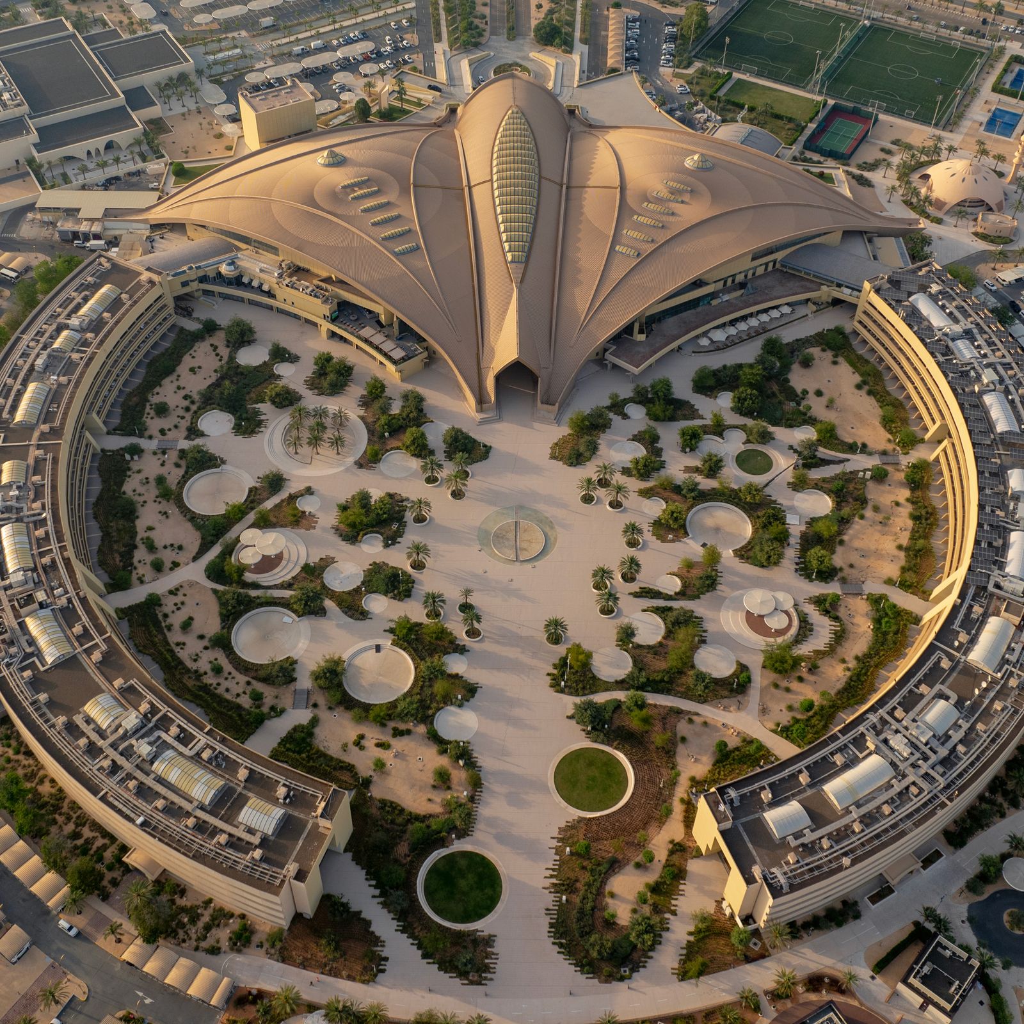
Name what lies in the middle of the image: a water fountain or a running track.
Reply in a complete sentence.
The feature located in the middle of the image is a water fountain.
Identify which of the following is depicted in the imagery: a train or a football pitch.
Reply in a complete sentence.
Looking from above, you can make out a football pitch.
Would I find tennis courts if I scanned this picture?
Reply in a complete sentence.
Yes, a tennis court is visible in the scene.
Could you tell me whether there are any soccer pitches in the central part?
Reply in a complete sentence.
No, no soccer pitch is visible in the central part.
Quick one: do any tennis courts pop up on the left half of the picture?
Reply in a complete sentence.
No, no tennis court can be made out on the left half of the picture.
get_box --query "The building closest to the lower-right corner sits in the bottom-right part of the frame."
[894,934,980,1024]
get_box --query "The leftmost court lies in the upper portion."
[808,104,873,152]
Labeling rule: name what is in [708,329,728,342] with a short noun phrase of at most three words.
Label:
umbrella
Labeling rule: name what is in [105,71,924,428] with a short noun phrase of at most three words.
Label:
building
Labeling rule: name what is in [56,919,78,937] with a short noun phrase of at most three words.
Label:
car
